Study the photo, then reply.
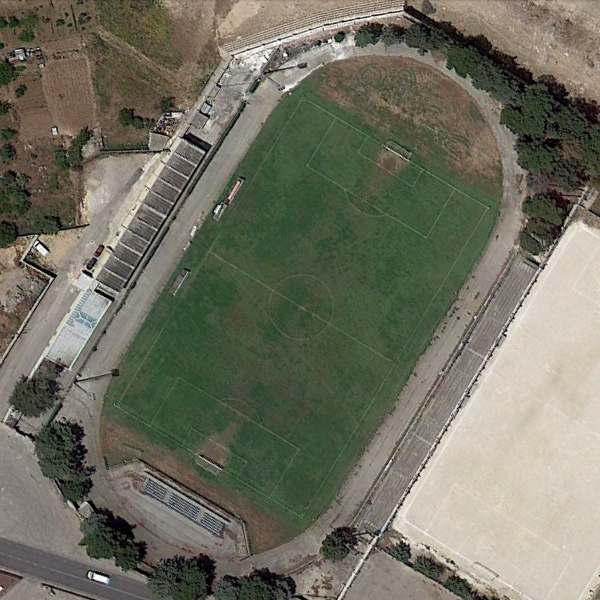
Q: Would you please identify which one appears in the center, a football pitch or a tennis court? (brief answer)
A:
football pitch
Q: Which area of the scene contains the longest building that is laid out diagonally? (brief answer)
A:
left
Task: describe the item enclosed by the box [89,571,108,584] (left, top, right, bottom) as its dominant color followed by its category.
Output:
white vehicle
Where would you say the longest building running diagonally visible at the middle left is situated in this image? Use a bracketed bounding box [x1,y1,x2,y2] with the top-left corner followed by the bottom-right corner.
[44,287,112,370]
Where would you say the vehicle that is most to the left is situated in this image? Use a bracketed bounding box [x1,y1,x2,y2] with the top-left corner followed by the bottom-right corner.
[32,240,50,257]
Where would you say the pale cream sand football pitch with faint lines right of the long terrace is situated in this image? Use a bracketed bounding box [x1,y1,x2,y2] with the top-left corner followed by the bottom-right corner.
[385,222,600,600]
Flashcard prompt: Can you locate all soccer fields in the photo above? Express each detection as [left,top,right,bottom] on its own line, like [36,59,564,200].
[101,53,503,556]
[385,222,600,600]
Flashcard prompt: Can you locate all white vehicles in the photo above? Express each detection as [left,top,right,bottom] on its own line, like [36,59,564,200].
[89,571,108,584]
[32,240,50,257]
